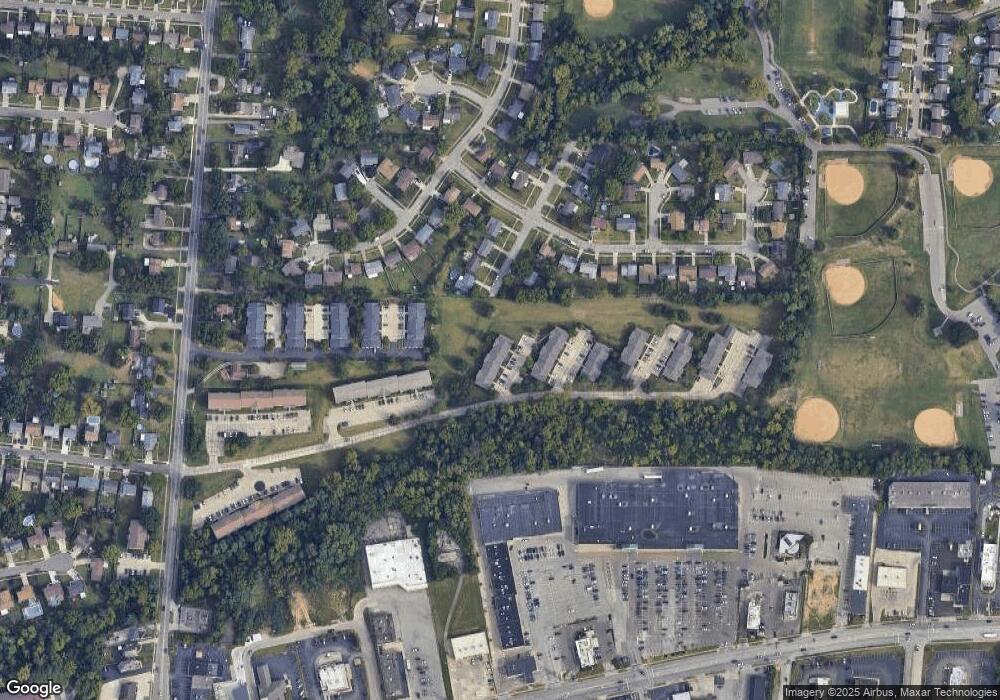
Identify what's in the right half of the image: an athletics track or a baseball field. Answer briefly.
baseball field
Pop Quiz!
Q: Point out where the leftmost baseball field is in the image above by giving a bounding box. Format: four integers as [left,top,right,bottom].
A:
[566,0,669,36]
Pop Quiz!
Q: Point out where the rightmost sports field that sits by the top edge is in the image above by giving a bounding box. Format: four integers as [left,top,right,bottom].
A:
[783,0,846,61]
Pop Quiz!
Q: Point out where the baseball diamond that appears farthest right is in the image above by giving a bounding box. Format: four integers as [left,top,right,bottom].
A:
[947,154,1000,228]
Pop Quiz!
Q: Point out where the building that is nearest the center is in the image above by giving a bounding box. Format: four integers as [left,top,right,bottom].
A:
[475,336,514,389]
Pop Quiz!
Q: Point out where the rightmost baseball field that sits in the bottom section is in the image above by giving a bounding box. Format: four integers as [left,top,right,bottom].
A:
[893,393,963,449]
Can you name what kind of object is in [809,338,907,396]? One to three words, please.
soccer field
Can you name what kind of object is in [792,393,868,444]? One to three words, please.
baseball field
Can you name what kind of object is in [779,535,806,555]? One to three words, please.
building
